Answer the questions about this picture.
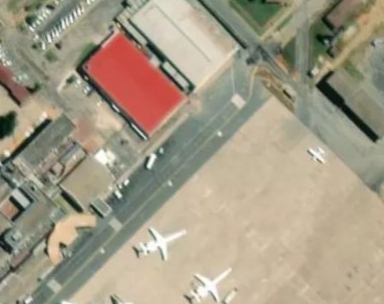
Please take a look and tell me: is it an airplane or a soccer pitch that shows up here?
airplane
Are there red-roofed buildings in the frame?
Yes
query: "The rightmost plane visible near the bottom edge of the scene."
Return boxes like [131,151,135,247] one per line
[189,268,231,303]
